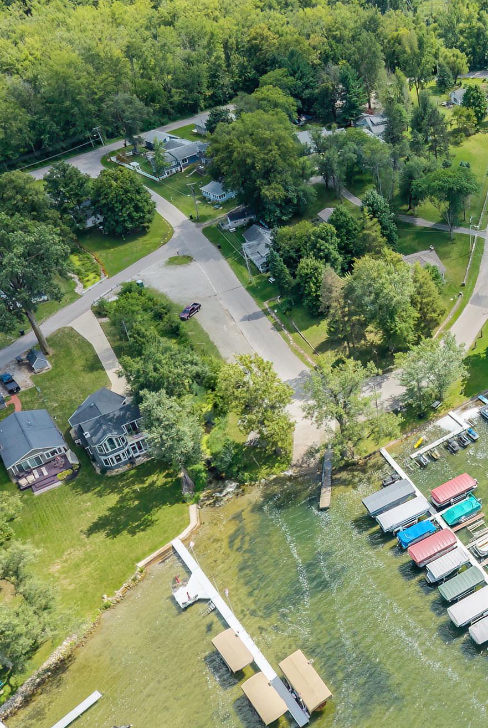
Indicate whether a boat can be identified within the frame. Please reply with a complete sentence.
Yes, the picture does show a boat.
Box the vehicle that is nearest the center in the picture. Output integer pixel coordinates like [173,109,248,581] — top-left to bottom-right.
[180,302,201,318]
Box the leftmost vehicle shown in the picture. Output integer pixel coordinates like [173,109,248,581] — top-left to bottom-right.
[0,375,17,394]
